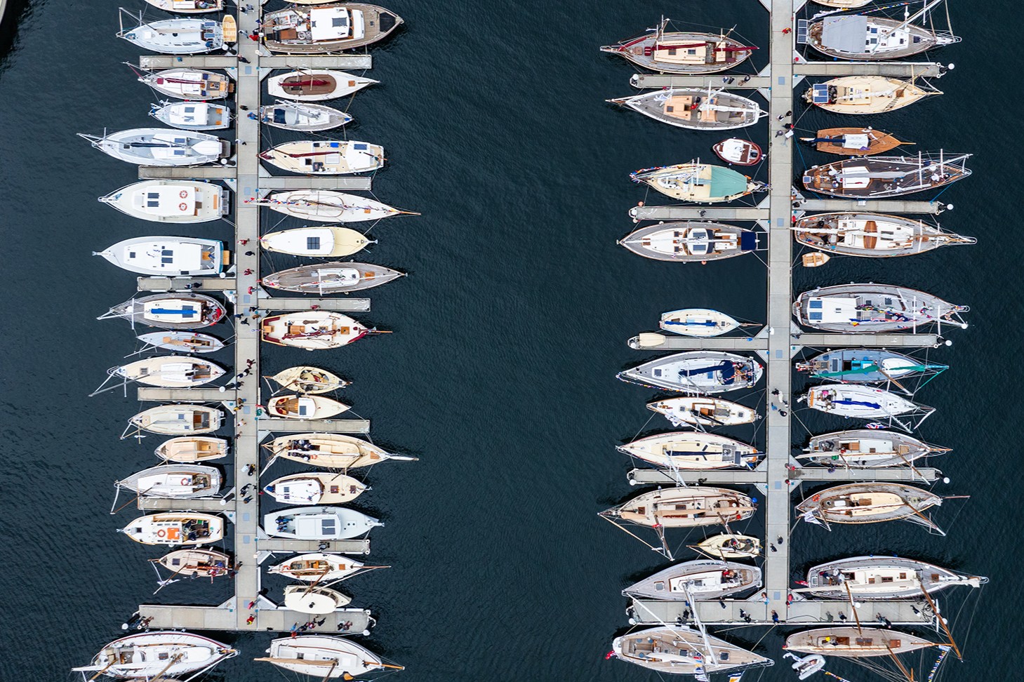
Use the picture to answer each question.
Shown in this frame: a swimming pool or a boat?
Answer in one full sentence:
Of the two, only a boat appears.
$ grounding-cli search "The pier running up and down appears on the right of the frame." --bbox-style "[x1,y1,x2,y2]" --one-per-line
[758,0,805,624]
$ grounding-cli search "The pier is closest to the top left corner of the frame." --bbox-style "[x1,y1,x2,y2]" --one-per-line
[139,44,238,80]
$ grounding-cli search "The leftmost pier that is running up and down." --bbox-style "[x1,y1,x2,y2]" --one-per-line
[232,0,268,630]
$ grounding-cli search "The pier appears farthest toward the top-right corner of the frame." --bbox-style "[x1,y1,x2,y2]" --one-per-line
[793,52,943,89]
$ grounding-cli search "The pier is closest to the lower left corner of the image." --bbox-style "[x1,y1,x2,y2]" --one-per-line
[139,591,235,630]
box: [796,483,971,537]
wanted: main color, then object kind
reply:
white boat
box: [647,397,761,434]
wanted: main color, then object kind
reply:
white boat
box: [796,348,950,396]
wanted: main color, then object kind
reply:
blue boat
